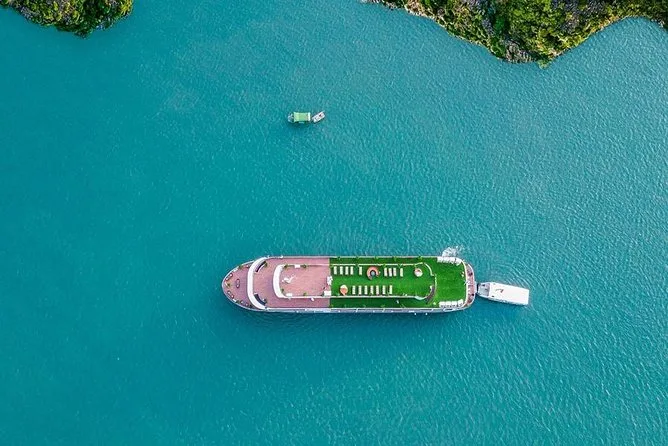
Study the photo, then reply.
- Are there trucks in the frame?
No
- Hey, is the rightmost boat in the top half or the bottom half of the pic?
bottom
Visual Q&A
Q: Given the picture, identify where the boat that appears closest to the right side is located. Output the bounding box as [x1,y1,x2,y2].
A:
[476,284,528,306]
